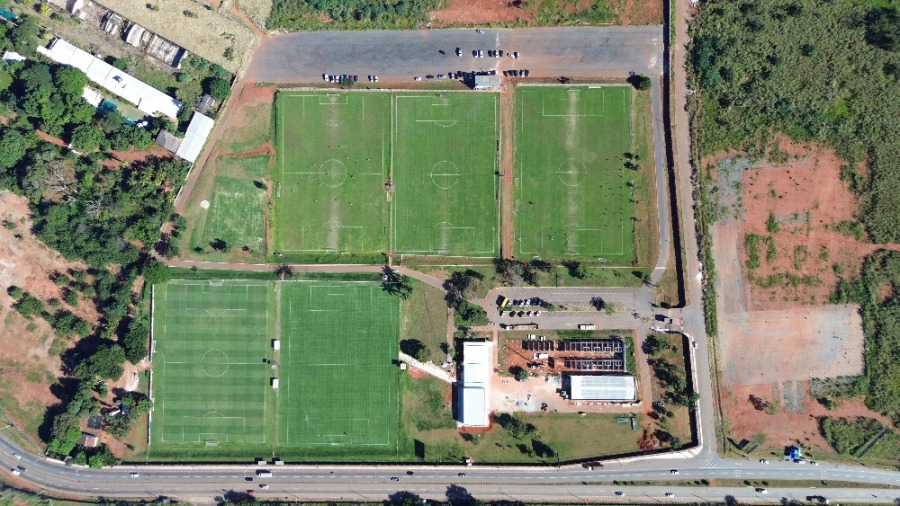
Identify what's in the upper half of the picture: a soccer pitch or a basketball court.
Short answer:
soccer pitch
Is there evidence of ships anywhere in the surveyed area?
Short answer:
No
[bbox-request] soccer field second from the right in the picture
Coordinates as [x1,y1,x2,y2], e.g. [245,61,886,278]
[390,92,499,256]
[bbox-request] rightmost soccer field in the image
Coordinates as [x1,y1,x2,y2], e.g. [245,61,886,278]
[514,85,634,259]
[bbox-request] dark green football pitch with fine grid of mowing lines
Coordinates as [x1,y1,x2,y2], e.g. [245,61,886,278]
[279,282,398,449]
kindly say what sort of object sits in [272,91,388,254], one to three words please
soccer field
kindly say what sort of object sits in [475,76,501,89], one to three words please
building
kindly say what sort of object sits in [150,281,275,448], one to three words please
soccer field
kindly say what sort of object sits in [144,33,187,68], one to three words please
shed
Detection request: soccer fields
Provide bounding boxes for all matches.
[279,282,398,449]
[514,85,634,259]
[390,92,499,256]
[272,91,388,254]
[150,281,275,448]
